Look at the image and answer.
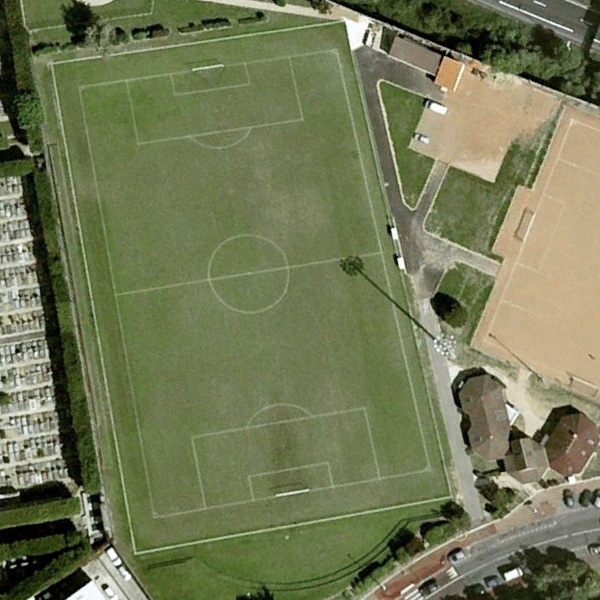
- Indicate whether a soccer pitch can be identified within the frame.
Yes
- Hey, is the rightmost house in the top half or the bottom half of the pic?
bottom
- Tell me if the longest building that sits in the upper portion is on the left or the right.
right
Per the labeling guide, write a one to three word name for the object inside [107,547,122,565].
vehicle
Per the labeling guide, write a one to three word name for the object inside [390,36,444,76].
building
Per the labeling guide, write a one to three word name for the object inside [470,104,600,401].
soccer field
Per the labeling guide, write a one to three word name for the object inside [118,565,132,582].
car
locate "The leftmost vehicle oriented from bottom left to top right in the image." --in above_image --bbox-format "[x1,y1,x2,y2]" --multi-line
[421,580,439,595]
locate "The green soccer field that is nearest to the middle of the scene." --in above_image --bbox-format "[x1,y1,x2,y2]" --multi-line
[48,24,450,554]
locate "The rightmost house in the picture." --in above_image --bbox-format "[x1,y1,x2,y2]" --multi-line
[545,412,600,476]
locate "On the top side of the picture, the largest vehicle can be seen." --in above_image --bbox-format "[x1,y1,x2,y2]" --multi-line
[424,100,447,114]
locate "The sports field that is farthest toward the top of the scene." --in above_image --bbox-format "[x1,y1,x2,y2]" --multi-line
[22,0,156,32]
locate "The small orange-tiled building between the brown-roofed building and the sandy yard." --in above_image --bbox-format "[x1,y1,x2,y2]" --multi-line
[436,56,466,91]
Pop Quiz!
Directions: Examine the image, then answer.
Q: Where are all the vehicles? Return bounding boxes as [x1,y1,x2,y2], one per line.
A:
[104,586,118,600]
[424,100,447,114]
[118,565,132,582]
[448,551,466,564]
[487,575,505,588]
[588,546,600,555]
[107,547,122,565]
[581,488,591,507]
[594,489,600,509]
[414,133,431,145]
[421,580,439,595]
[503,568,521,582]
[564,489,575,509]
